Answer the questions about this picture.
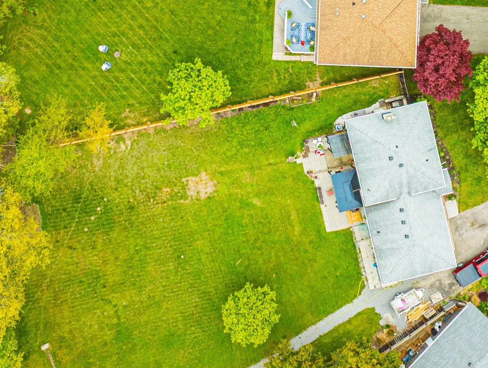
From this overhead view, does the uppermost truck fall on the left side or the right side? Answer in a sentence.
The uppermost truck is on the right side of the image.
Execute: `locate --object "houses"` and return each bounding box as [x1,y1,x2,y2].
[314,0,422,69]
[343,101,457,287]
[400,298,488,368]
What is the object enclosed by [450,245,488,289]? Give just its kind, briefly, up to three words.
truck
